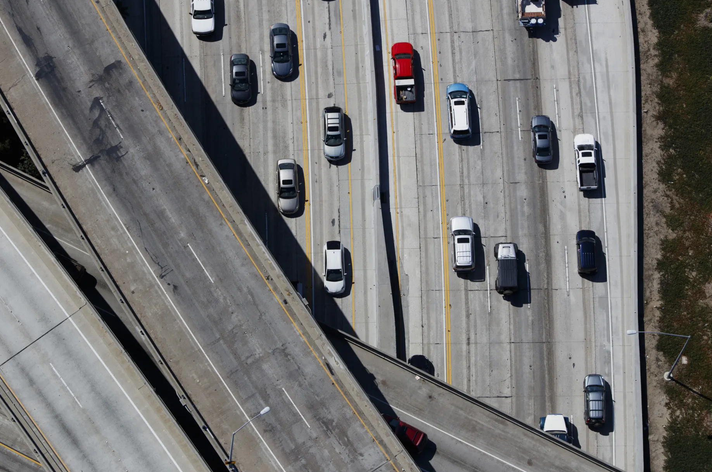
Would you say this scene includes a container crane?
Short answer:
No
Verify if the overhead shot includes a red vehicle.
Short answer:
Yes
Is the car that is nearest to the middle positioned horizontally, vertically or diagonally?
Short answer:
vertically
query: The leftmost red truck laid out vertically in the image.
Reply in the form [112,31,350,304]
[390,42,418,106]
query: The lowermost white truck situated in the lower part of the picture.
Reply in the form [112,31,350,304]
[541,413,573,444]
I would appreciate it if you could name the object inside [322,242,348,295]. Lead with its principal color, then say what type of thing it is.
white car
